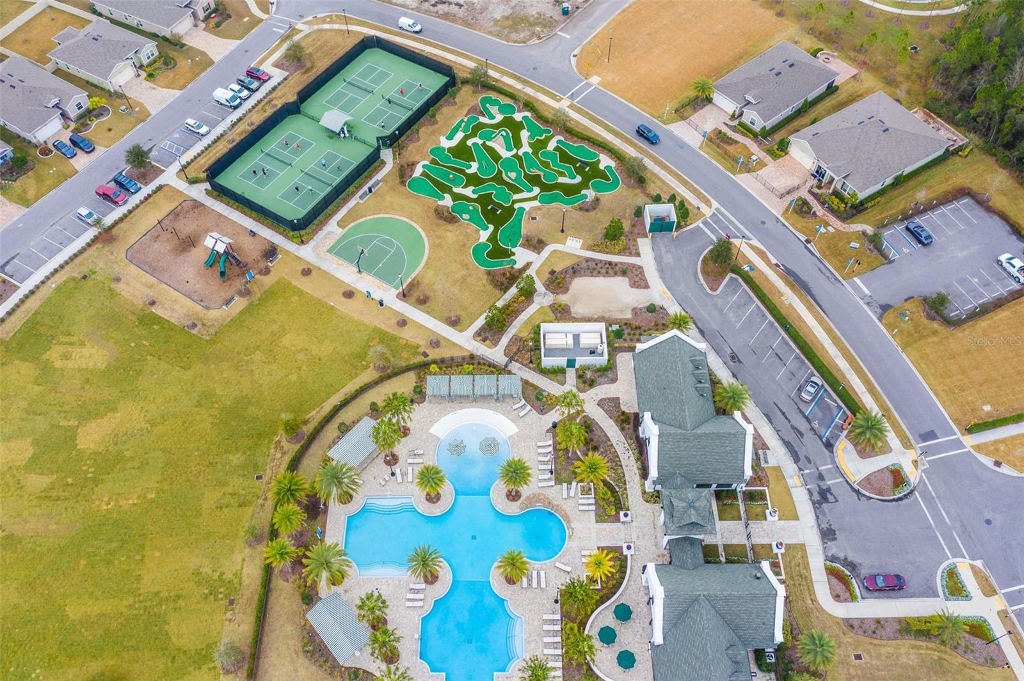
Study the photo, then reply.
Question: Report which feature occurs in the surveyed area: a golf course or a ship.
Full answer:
It is a golf course that can be seen here.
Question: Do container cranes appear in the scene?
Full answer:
No, no container crane is visible in the scene.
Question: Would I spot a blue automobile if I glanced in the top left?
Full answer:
Yes, in the top left there is a blue automobile.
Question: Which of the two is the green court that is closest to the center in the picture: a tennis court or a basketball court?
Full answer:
In the photo, the green court that is closest to the center shows up as a basketball court.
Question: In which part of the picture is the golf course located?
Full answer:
The golf course appears toward the top of the photo.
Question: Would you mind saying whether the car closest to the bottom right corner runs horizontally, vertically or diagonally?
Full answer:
The car closest to the bottom right corner runs horizontally in the image.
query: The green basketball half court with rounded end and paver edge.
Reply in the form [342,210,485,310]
[328,214,430,291]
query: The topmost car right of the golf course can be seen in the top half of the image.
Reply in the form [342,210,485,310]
[635,122,662,144]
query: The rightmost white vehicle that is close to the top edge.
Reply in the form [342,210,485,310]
[397,14,422,32]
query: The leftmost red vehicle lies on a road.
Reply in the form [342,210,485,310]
[93,182,126,205]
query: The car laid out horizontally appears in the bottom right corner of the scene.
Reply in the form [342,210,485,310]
[864,573,911,593]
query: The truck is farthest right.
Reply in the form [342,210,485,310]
[999,251,1024,282]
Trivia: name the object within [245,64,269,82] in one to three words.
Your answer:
car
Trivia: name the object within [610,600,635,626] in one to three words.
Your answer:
umbrella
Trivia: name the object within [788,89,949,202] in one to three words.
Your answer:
house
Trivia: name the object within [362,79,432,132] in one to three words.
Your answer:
sports court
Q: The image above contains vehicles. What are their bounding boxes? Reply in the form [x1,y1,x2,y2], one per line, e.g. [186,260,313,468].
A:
[67,131,94,152]
[51,138,75,157]
[245,64,269,82]
[93,182,126,205]
[111,172,140,194]
[73,205,98,224]
[635,122,662,144]
[799,374,826,404]
[397,14,422,32]
[226,81,250,99]
[999,251,1024,282]
[906,220,937,246]
[235,73,259,91]
[212,85,240,107]
[864,573,911,593]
